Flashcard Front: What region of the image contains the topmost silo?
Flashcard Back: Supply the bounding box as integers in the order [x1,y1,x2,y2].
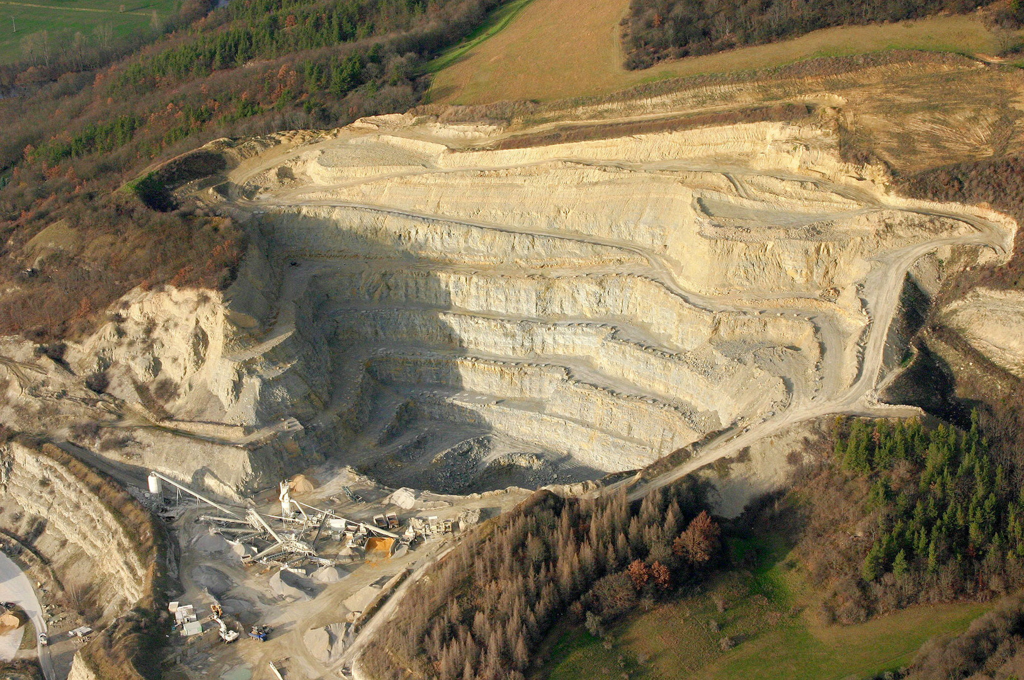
[145,476,165,515]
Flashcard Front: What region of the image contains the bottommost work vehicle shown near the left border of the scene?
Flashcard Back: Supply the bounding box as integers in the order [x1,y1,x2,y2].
[35,631,48,650]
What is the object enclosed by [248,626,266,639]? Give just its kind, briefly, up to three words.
vehicle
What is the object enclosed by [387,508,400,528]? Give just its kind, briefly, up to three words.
vehicle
